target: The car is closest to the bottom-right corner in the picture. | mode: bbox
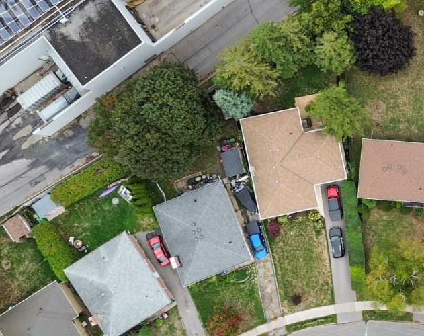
[327,227,345,259]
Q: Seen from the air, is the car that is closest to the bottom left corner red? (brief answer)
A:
Yes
